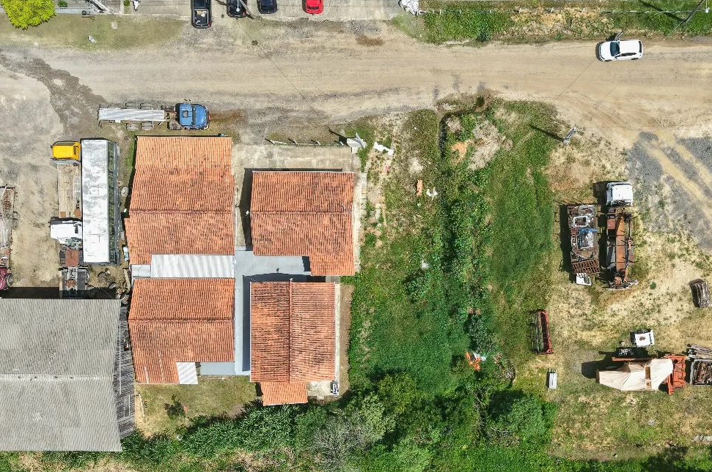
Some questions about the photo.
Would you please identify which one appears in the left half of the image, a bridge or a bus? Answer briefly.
bus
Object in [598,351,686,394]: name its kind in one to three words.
work vehicle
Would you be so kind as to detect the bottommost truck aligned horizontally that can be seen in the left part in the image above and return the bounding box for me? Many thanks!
[95,98,209,129]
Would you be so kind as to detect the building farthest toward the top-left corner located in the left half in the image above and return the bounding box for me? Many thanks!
[126,136,243,266]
